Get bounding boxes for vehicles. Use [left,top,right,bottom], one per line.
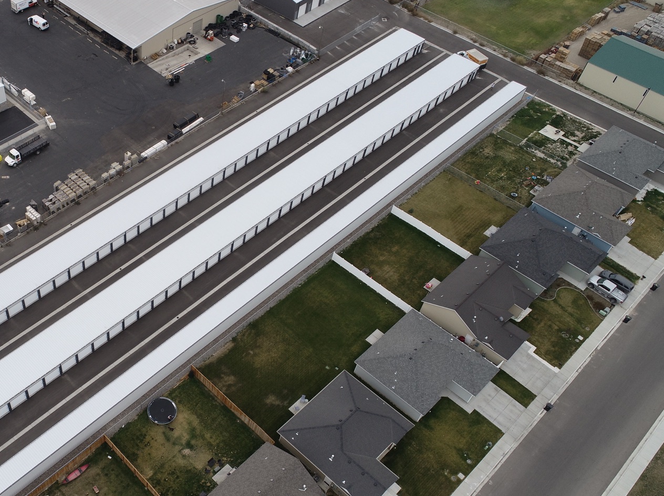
[454,45,491,71]
[583,278,631,308]
[4,136,54,169]
[597,271,636,296]
[203,29,214,42]
[29,15,49,30]
[10,0,40,12]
